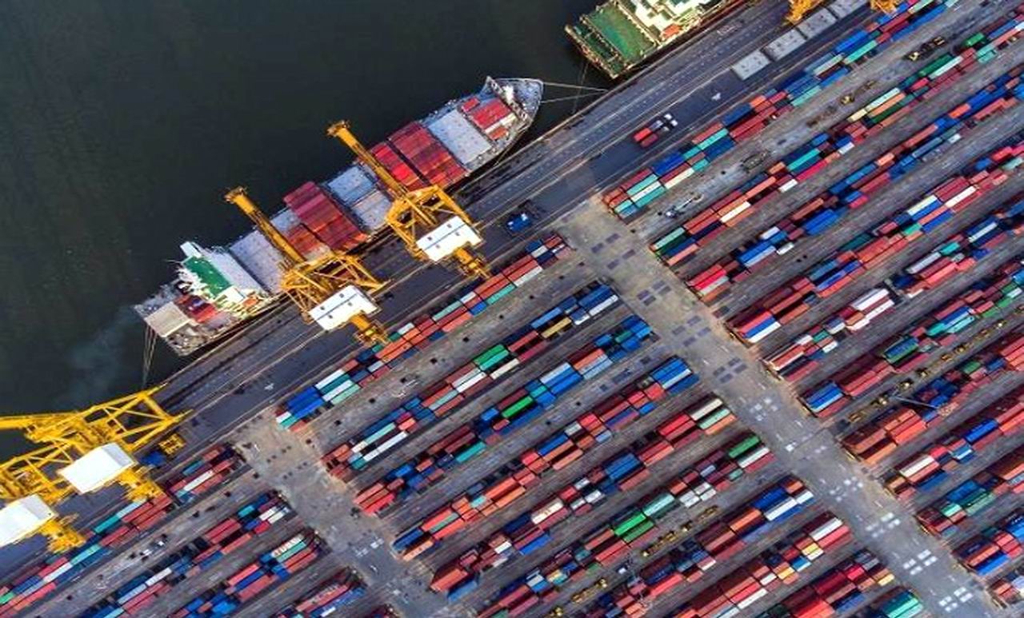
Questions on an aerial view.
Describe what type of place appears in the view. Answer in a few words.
port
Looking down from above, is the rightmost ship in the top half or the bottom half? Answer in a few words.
top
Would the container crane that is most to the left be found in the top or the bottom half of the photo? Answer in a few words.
bottom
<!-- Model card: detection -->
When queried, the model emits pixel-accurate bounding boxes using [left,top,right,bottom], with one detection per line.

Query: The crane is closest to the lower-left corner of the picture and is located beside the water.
[0,445,91,564]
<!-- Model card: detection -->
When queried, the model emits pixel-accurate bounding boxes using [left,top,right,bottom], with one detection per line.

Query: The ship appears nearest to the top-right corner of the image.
[565,0,744,82]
